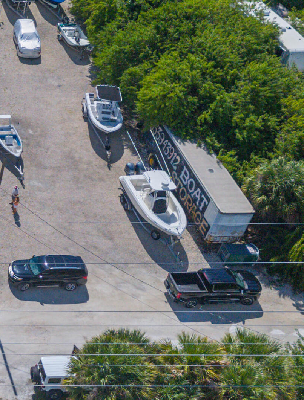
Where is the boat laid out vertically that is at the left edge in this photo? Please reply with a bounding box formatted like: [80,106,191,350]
[0,106,25,161]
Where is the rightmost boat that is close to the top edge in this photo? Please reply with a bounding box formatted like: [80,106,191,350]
[57,17,92,46]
